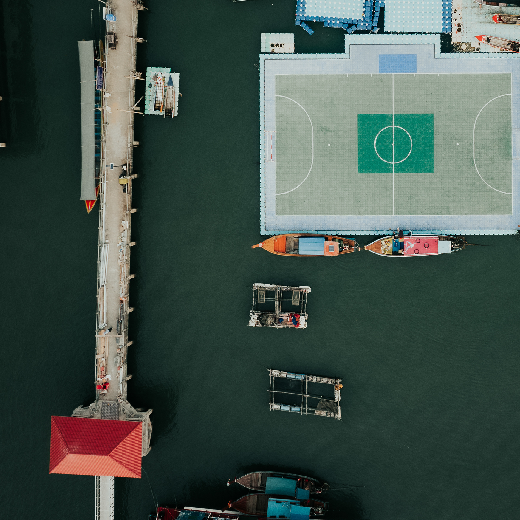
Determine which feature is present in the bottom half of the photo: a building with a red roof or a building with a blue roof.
building with a red roof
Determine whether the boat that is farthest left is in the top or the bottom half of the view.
top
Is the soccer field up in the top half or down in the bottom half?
top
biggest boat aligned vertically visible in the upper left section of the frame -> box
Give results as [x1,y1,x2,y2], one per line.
[78,38,101,214]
